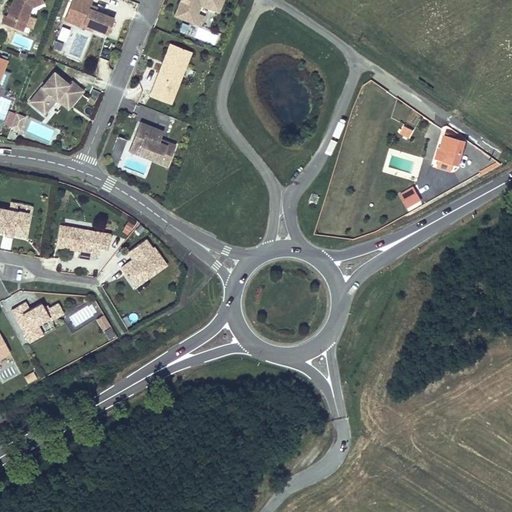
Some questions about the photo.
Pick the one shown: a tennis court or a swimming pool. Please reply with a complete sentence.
There is a swimming pool in the scene.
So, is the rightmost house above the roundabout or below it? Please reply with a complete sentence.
The rightmost house appears above the roundabout in the picture.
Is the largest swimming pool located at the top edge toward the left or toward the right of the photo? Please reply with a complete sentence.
You can find the largest swimming pool located at the top edge on the left side of the picture.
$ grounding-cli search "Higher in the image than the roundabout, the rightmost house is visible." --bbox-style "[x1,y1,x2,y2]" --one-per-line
[434,130,466,172]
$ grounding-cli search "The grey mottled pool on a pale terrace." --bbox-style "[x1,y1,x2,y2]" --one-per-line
[54,22,95,63]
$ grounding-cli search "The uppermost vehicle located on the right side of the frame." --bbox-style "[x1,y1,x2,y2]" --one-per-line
[326,119,346,154]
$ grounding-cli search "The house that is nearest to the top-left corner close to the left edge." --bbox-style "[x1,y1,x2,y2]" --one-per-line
[2,0,46,31]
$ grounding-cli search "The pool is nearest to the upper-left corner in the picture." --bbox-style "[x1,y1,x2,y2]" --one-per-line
[10,32,35,52]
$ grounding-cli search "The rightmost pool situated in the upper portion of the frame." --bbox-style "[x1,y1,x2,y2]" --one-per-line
[382,148,423,182]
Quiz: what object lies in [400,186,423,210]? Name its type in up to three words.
building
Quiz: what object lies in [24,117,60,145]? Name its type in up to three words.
swimming pool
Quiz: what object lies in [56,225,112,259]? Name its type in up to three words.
house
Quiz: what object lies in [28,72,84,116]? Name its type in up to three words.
house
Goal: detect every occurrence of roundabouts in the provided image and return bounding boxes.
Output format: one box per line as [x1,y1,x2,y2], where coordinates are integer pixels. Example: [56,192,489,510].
[8,170,512,457]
